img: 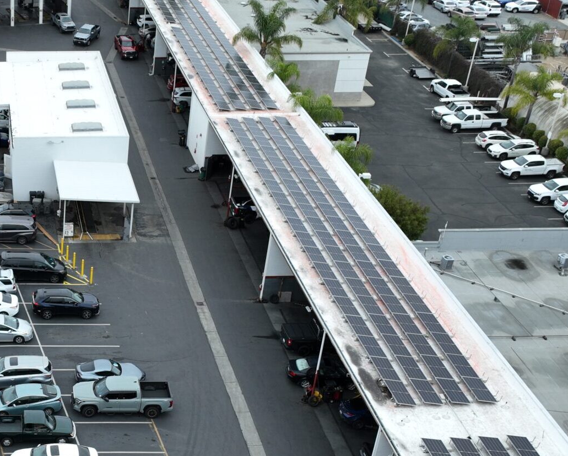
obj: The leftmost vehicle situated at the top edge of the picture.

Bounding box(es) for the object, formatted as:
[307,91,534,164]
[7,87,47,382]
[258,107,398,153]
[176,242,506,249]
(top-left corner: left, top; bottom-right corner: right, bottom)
[50,8,75,29]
